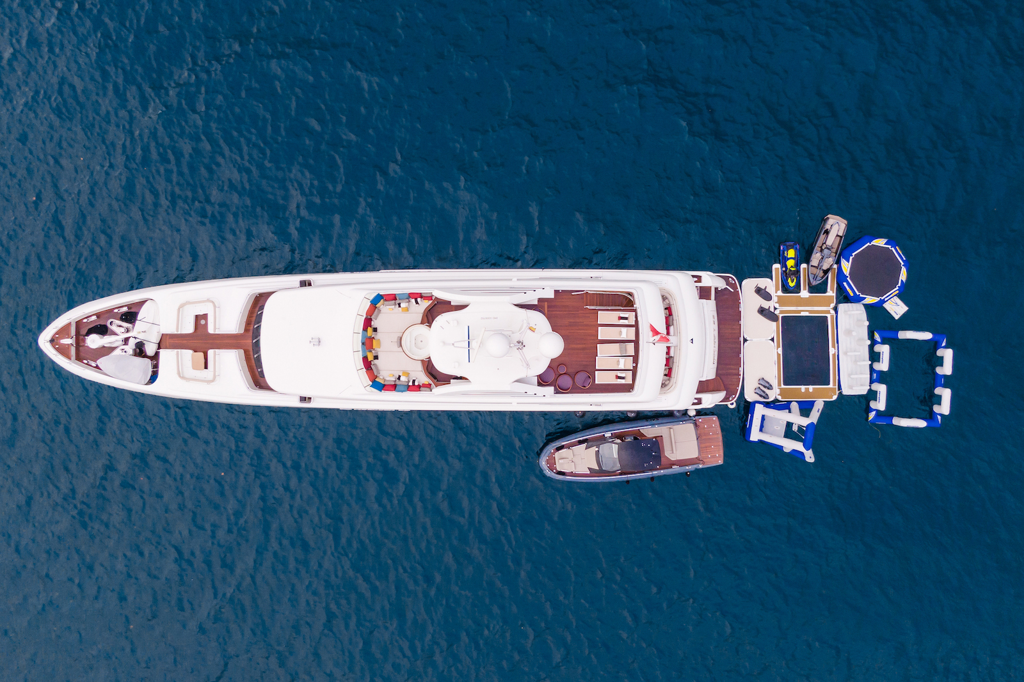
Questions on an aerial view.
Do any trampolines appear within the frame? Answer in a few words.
Yes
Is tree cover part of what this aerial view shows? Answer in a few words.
No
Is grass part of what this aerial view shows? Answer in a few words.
No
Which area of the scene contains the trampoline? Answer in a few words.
right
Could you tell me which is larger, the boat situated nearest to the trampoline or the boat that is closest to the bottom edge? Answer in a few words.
the boat that is closest to the bottom edge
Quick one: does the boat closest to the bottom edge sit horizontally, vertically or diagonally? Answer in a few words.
horizontally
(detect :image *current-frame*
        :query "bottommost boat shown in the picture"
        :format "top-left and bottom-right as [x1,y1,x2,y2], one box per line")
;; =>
[537,416,723,484]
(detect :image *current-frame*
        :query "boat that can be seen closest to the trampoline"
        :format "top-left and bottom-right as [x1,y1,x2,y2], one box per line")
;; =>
[809,214,848,286]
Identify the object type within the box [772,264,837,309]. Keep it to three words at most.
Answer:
pier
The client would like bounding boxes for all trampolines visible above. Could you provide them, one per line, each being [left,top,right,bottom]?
[837,235,910,307]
